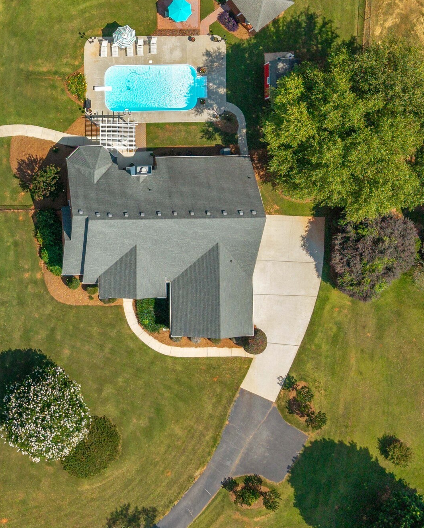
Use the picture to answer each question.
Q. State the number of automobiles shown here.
0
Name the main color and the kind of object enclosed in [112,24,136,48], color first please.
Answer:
white umbrella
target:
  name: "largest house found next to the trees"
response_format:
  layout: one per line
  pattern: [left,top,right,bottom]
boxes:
[61,145,266,340]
